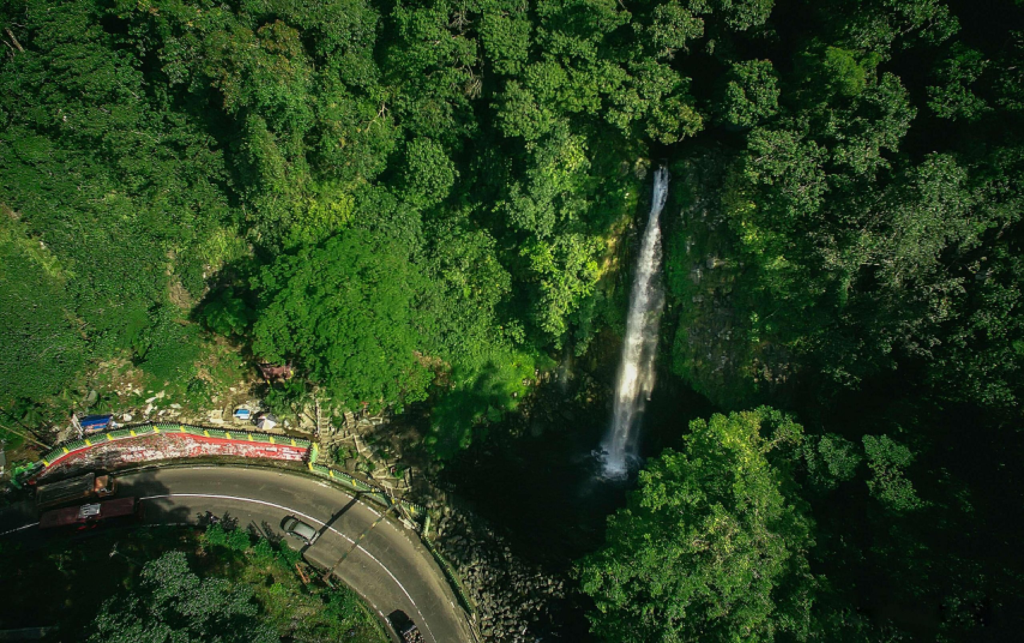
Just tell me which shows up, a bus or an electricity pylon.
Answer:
bus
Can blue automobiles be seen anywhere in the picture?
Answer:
No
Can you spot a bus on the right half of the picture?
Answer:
No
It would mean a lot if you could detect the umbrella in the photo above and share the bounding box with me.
[255,411,277,430]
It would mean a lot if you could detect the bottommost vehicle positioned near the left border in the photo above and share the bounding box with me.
[41,496,148,539]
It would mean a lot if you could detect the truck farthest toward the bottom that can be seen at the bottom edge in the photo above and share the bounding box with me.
[391,606,427,643]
